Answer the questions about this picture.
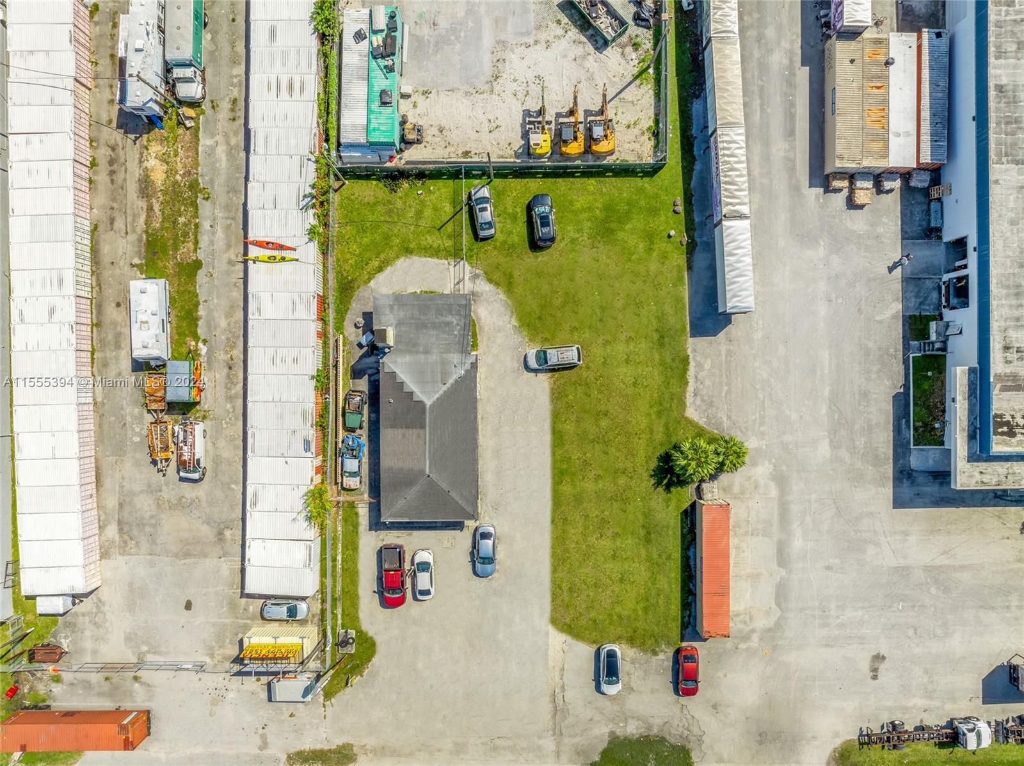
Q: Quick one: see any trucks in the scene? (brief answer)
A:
Yes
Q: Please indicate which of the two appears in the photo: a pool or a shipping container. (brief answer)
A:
shipping container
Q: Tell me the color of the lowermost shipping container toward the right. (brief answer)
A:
orange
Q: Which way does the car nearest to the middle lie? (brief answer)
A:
from side to side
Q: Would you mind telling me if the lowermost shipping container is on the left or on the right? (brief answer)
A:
left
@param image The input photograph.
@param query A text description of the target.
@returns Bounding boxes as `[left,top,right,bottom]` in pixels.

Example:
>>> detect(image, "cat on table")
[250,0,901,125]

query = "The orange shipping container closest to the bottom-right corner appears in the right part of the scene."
[695,497,730,639]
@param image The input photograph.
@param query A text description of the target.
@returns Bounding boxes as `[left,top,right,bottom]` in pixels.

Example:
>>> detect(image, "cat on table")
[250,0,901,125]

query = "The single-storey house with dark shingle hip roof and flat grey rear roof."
[373,294,478,521]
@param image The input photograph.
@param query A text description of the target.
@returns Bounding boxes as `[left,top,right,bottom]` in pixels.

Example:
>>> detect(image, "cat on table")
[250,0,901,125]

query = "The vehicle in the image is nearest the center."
[526,346,582,374]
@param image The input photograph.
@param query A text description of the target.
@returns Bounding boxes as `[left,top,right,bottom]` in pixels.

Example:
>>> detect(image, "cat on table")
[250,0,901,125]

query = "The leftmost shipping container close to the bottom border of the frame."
[0,702,153,752]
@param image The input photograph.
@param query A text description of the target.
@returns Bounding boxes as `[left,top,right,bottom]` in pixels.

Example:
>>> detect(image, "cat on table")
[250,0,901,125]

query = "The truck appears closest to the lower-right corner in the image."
[993,716,1024,754]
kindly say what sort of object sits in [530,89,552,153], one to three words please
work vehicle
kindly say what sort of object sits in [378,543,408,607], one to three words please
truck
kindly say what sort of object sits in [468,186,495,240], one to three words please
car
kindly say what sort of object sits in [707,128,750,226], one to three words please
trailer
